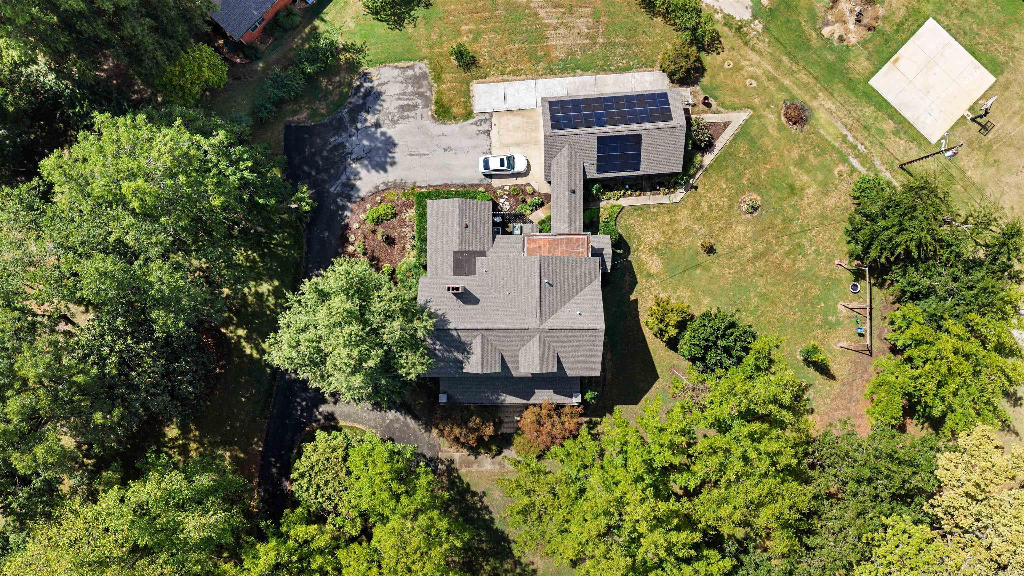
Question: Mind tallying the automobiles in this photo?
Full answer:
In total, there is 1 automobile in the scene.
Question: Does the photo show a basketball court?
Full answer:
Yes, the photo shows a basketball court.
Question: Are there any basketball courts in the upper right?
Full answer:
Yes, a basketball court appears in the upper right.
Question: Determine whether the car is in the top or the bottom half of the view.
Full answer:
You can find the car in the top half.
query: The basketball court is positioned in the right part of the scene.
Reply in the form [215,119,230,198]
[869,17,996,144]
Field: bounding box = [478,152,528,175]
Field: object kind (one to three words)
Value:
car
